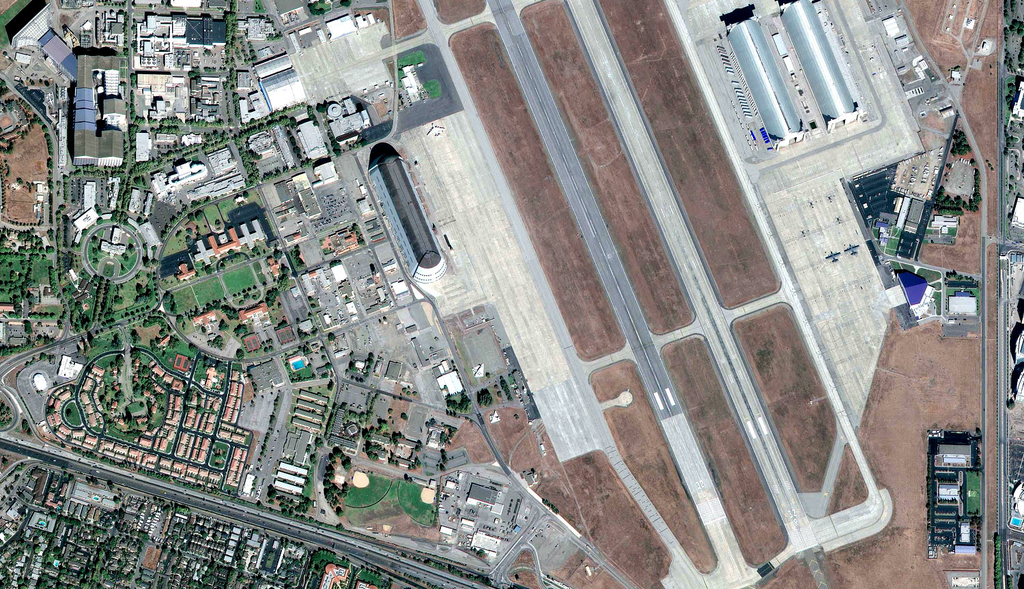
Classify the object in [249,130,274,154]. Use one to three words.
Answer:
building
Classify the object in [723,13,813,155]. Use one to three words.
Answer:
hangar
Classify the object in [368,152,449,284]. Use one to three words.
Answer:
hangar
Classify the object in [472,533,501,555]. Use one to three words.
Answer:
building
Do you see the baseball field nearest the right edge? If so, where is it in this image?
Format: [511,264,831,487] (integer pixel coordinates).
[398,482,438,525]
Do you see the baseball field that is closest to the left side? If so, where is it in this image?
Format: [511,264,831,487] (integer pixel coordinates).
[345,472,391,509]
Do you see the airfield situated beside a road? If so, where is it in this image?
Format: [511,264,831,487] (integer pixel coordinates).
[257,0,925,589]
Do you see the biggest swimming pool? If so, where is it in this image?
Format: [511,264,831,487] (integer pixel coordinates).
[289,356,309,371]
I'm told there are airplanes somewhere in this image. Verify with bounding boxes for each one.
[843,244,860,255]
[824,251,841,262]
[428,124,445,138]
